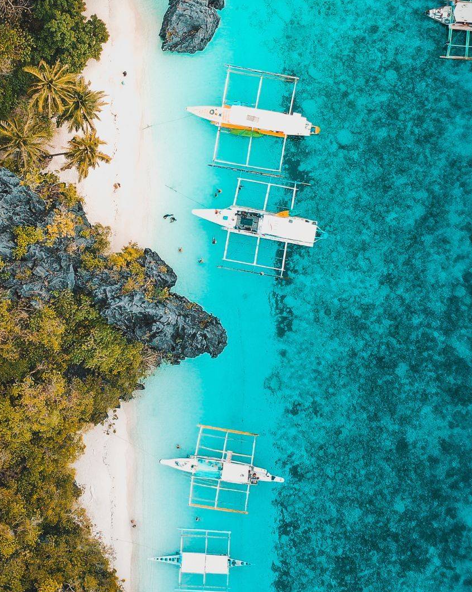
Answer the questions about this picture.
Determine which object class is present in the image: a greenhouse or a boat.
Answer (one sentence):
Of the two, only a boat appears.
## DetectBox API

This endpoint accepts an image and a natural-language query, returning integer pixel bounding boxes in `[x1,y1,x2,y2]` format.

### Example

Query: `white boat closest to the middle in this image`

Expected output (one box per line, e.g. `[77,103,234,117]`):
[191,170,327,279]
